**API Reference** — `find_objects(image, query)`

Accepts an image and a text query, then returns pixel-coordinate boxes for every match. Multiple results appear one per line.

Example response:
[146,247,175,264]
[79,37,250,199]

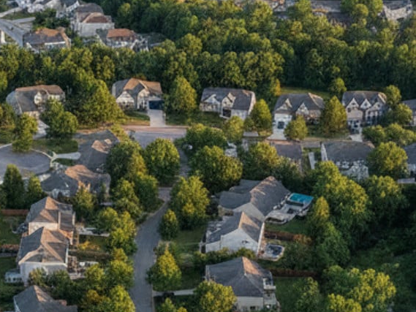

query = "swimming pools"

[262,243,285,258]
[286,194,314,209]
